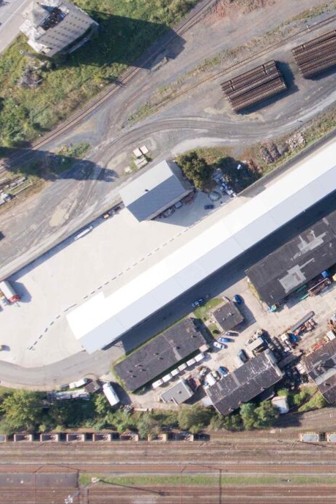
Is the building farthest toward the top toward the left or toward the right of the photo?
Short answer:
left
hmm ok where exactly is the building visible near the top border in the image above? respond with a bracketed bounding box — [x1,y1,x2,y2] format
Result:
[20,0,100,59]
